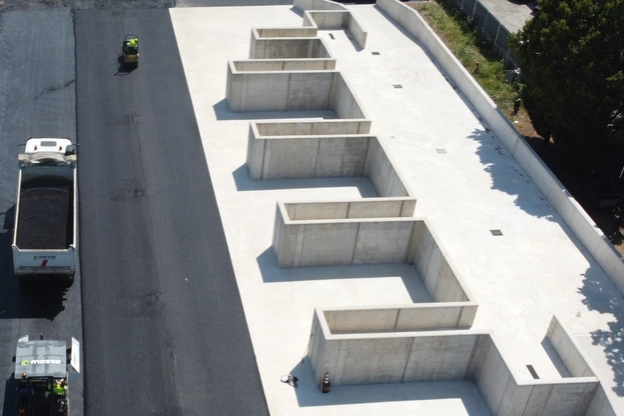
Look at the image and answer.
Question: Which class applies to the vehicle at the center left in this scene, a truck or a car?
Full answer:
The vehicle at the center left can be classified as a truck.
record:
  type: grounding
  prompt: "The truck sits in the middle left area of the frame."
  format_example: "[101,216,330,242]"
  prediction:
[11,135,83,287]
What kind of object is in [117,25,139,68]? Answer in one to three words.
work vehicle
